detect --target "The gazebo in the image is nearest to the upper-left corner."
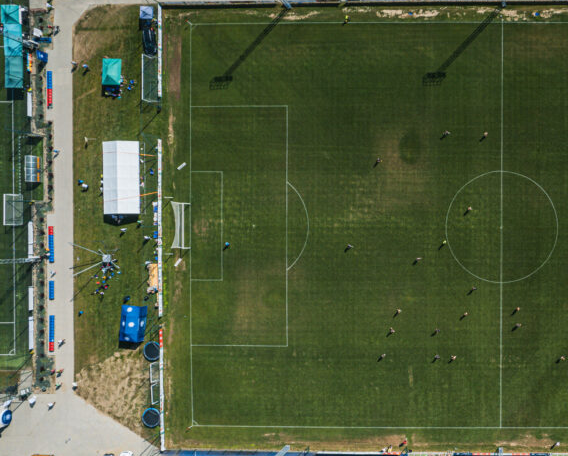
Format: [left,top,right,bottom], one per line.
[1,7,27,28]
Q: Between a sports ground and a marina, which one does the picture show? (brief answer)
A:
sports ground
